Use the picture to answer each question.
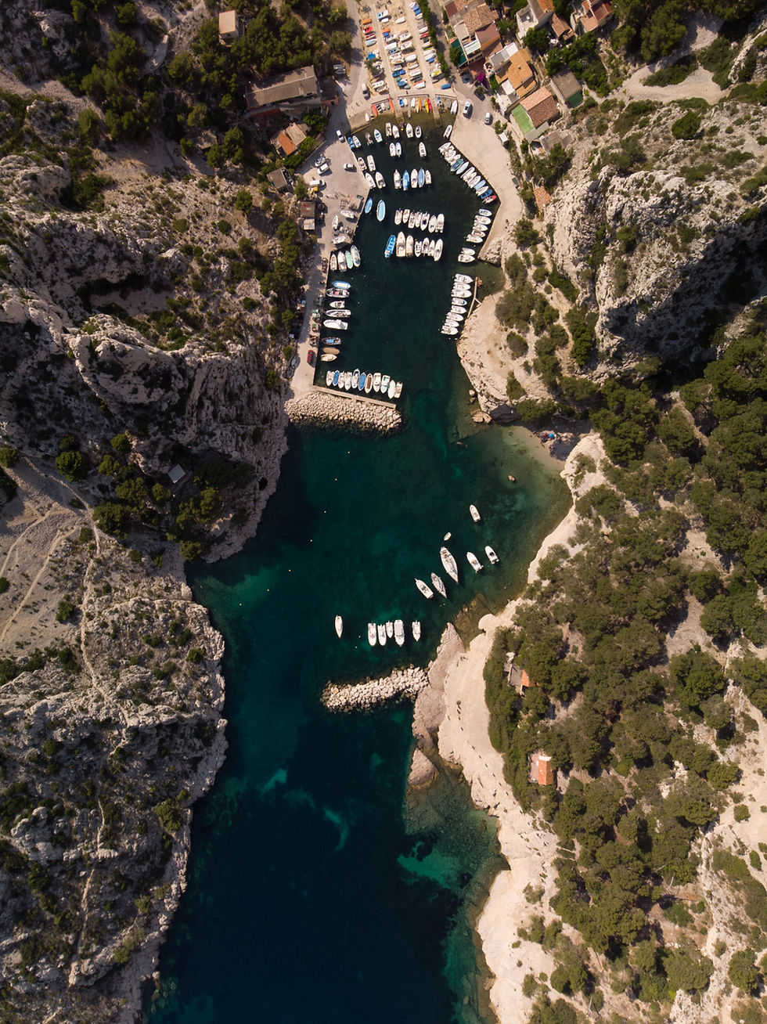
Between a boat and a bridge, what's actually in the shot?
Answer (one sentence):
There is a boat in the scene.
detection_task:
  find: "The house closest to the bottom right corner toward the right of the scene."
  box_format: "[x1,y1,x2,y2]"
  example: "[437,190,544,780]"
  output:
[529,751,554,786]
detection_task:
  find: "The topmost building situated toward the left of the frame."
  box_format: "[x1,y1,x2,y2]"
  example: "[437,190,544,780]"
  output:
[219,12,239,46]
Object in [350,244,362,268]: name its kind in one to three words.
boat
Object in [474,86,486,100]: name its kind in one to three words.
vehicle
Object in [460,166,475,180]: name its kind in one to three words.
boat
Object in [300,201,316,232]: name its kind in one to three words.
shed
